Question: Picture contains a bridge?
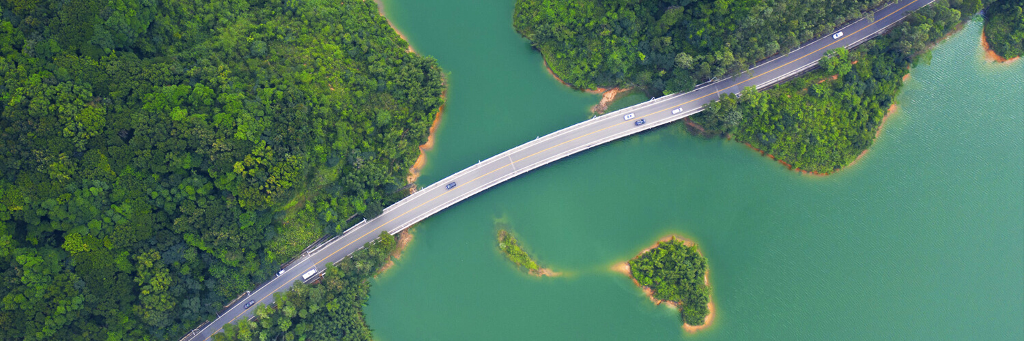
Yes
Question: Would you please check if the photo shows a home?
No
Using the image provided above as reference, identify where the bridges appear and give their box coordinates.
[303,80,722,279]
